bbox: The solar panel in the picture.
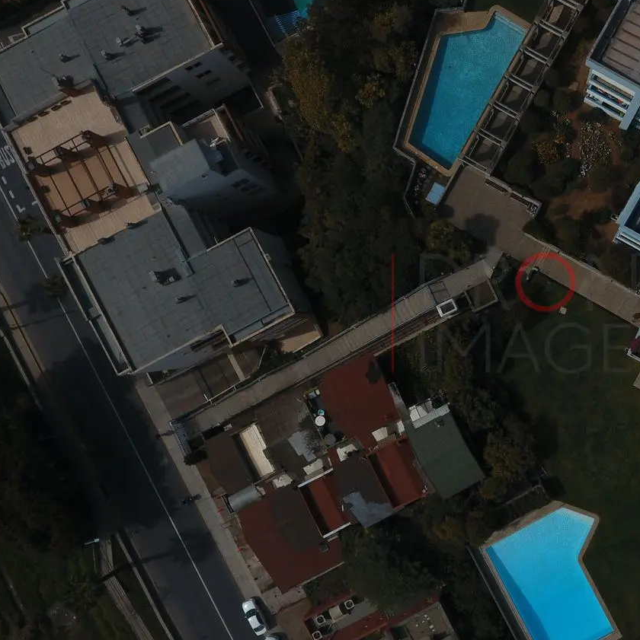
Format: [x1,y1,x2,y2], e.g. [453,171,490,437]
[425,182,446,205]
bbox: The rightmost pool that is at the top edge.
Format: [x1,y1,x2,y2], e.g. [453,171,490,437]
[397,5,533,176]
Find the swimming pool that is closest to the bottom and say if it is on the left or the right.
right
